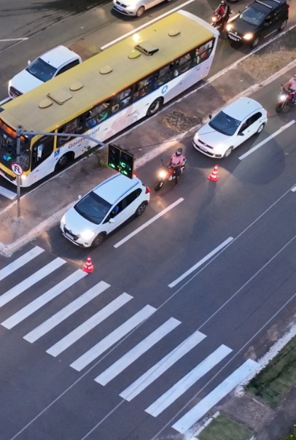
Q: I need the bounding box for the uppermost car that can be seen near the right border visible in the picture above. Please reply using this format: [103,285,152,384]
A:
[227,0,290,46]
